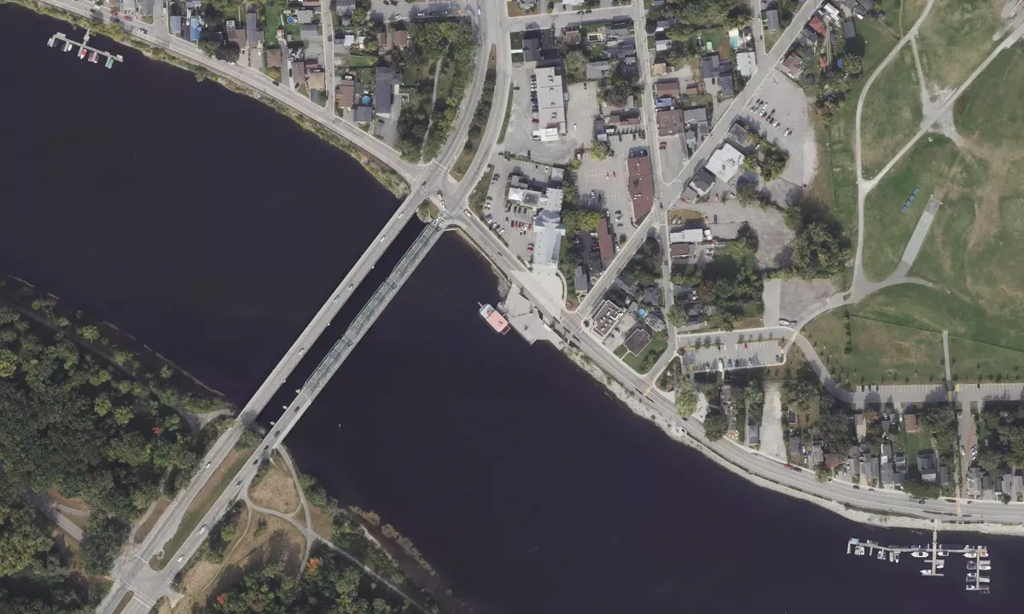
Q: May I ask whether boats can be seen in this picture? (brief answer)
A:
Yes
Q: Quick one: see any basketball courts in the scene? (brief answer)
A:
No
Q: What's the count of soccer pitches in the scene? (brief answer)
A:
zero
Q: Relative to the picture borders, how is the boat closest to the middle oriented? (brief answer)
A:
on a diagonal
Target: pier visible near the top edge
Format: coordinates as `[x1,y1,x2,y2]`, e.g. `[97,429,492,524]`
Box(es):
[52,28,125,68]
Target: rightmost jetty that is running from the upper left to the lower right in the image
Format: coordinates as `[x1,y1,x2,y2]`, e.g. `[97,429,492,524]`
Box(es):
[498,284,567,353]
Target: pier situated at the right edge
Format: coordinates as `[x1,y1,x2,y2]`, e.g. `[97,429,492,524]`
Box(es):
[846,526,988,589]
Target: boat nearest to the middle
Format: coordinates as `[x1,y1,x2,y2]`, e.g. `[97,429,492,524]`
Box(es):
[478,304,510,333]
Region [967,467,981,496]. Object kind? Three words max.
house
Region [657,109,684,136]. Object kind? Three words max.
building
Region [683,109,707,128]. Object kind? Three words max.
house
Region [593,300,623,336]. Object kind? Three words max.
building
